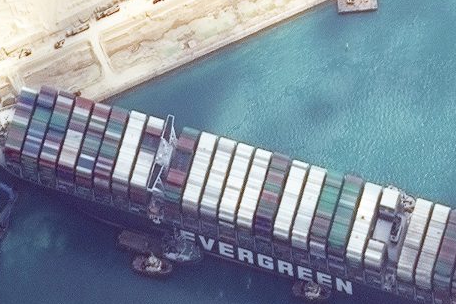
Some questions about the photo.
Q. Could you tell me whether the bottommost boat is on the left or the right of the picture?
right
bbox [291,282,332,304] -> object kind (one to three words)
boat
